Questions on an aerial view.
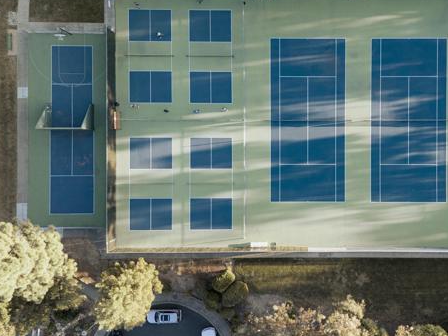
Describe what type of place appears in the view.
sports ground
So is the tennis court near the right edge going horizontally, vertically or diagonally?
vertically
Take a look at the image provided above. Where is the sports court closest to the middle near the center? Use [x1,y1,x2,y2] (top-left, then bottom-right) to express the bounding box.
[189,139,232,230]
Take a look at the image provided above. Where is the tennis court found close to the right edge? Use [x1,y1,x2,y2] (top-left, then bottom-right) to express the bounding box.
[372,39,447,201]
